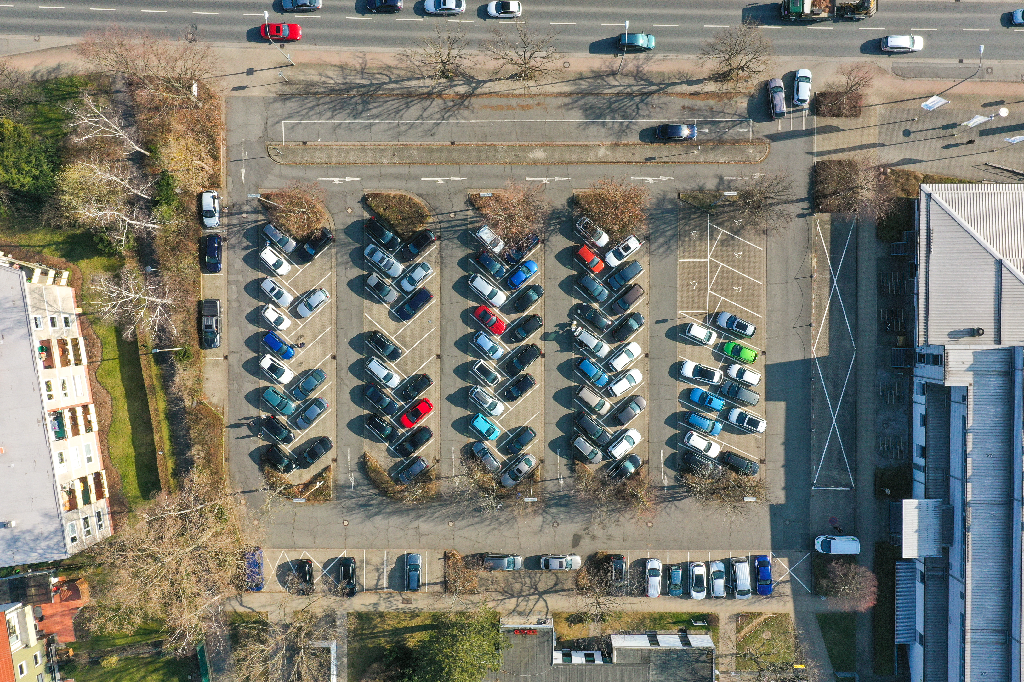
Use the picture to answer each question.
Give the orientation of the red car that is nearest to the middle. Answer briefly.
diagonally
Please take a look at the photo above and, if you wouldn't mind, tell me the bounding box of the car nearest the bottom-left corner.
[246,546,266,592]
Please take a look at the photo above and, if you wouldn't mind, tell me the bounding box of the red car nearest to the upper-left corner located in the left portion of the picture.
[260,21,303,41]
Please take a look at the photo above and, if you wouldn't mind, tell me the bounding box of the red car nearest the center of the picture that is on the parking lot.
[473,304,506,335]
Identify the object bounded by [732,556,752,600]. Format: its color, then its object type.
white vehicle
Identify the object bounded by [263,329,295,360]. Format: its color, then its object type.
blue car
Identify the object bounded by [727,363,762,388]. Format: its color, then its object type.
white car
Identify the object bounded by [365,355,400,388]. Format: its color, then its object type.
white car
